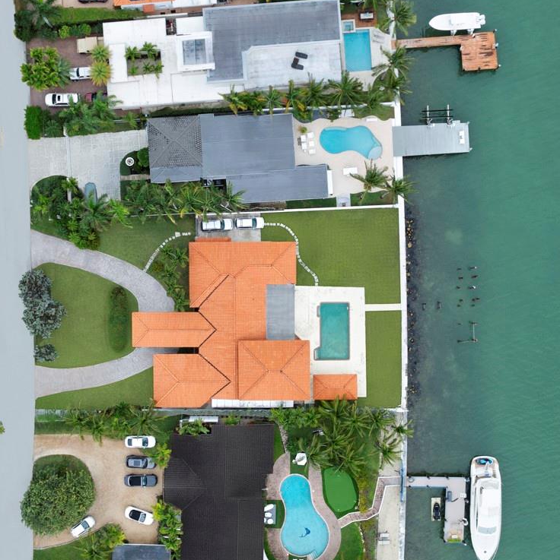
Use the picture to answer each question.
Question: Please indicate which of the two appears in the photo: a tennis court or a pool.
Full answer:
I can see a pool in this picture.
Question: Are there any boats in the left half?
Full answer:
No, I see no boat in the left half.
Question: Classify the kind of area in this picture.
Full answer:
The area seen from above is a residential area.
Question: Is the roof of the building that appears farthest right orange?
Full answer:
Yes, the roof of the building that appears farthest right is orange.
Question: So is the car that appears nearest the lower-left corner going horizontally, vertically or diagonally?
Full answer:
What the image shows is the car that appears nearest the lower-left corner lying diagonally.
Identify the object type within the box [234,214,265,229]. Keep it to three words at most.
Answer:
car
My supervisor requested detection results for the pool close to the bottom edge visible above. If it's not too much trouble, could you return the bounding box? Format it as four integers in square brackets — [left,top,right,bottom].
[278,473,331,560]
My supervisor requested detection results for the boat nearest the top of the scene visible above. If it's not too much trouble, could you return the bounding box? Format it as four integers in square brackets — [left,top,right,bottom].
[429,13,483,32]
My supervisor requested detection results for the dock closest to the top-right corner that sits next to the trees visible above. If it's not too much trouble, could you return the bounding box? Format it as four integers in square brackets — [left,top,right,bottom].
[391,29,501,75]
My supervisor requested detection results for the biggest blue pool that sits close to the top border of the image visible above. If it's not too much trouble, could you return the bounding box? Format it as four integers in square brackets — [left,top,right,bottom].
[341,26,375,74]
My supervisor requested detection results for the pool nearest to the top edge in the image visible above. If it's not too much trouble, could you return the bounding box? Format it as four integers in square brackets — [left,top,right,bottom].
[340,18,355,32]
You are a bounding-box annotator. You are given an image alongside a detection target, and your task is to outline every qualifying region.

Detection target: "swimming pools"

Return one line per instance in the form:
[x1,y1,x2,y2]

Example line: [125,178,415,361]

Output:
[340,18,355,32]
[278,473,331,560]
[341,26,375,74]
[317,124,384,161]
[314,301,351,361]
